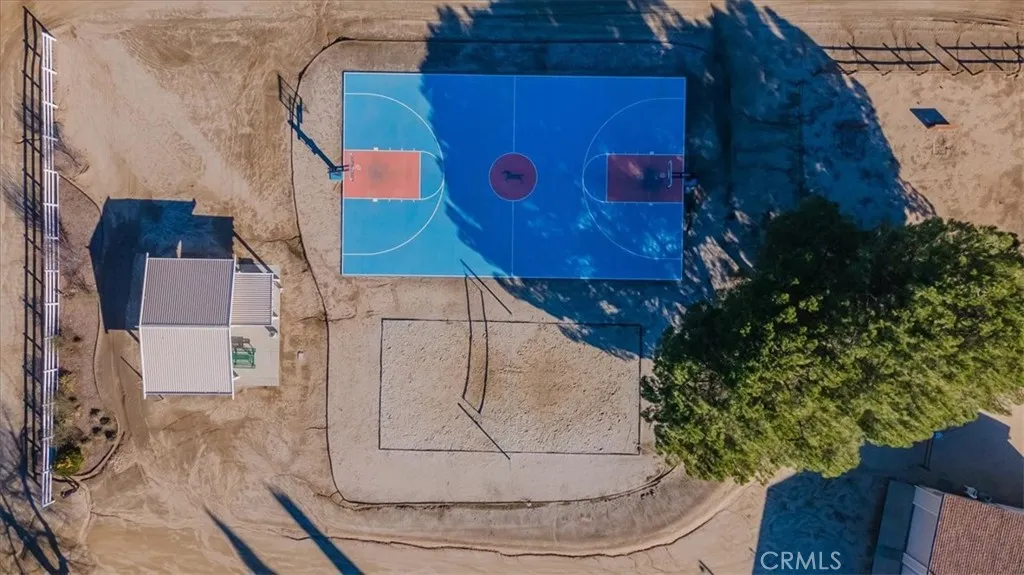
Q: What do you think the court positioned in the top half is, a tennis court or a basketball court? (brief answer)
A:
basketball court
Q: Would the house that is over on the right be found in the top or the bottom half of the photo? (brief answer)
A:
bottom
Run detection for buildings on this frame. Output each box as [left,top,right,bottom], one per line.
[859,476,1024,575]
[138,256,279,399]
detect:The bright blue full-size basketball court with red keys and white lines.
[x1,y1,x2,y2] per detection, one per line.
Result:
[341,72,687,280]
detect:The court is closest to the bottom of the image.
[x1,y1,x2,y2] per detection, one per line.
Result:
[378,318,642,456]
